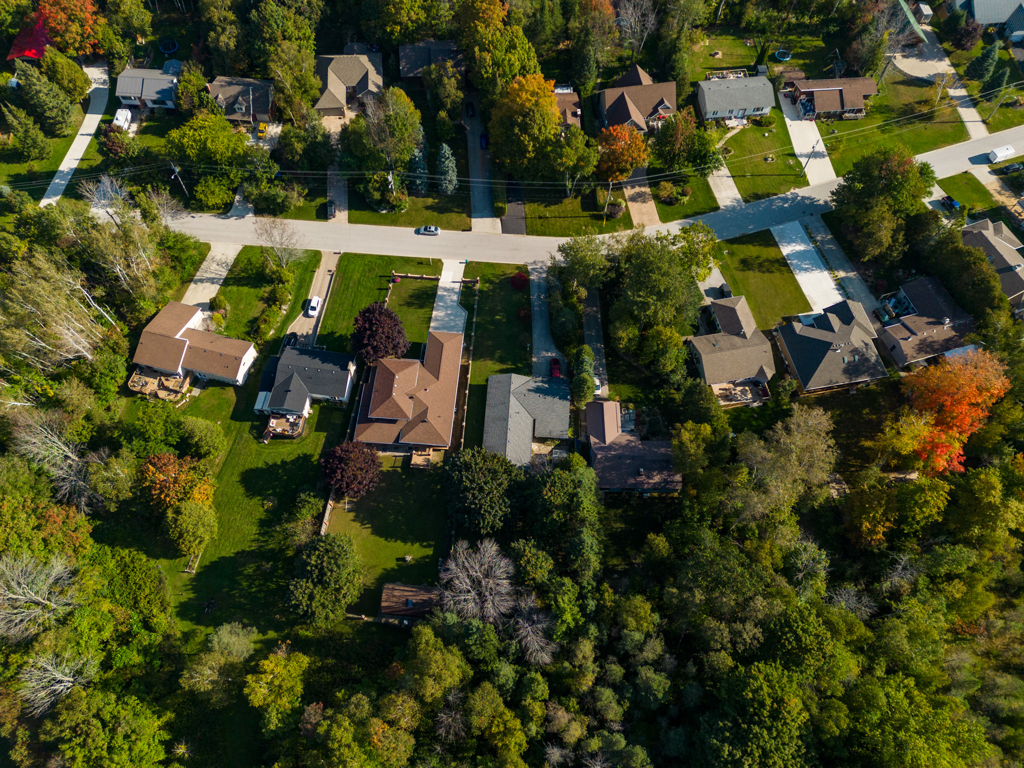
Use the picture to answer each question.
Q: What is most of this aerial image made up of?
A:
trees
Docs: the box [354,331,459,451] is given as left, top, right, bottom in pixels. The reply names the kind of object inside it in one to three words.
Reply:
house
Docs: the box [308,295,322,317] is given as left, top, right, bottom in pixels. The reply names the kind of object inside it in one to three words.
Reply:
car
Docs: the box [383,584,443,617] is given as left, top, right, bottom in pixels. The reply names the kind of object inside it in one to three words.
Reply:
shed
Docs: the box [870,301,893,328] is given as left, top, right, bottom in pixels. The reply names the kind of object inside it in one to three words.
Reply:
truck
